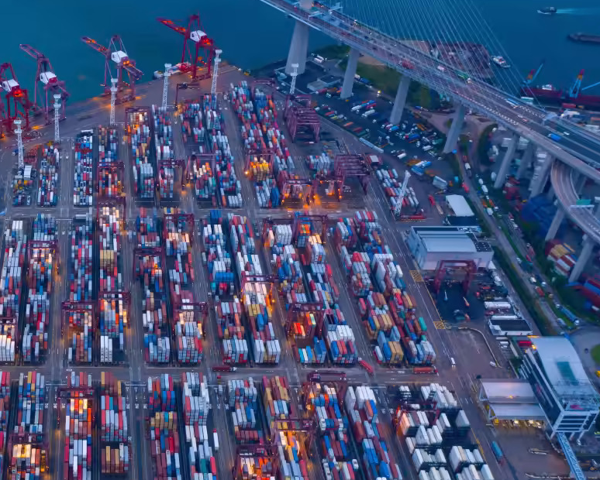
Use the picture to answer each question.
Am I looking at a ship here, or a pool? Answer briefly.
ship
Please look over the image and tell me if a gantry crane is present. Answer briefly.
Yes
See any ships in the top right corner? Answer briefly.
Yes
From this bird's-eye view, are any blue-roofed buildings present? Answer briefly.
Yes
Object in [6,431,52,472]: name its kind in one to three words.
container crane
